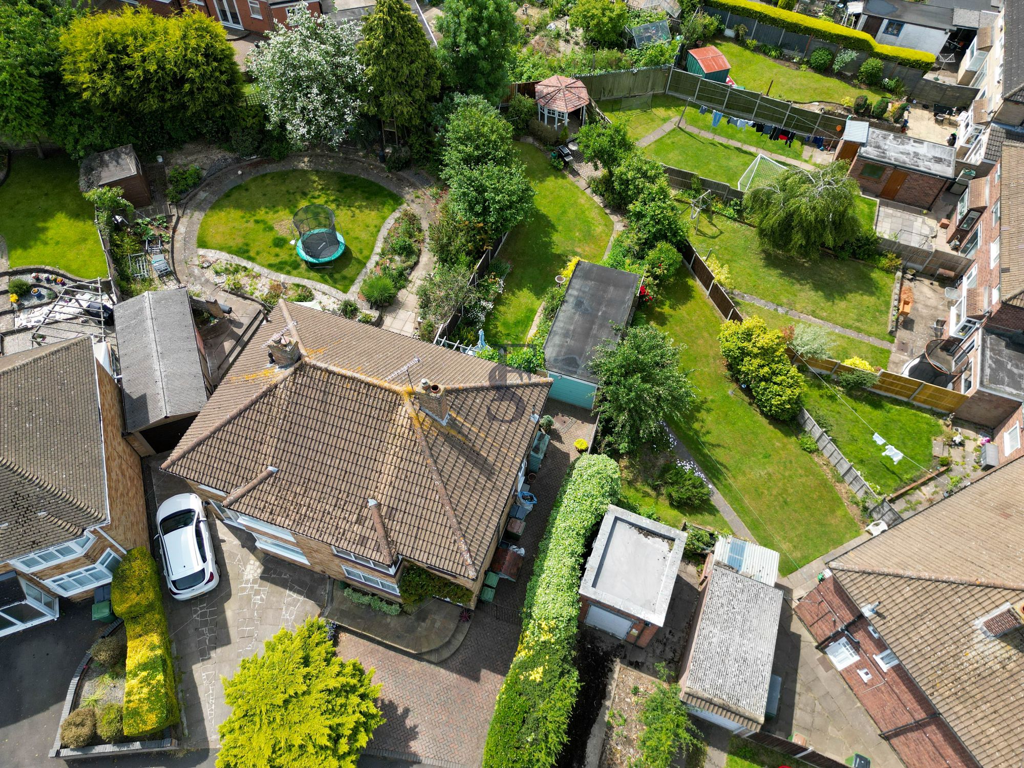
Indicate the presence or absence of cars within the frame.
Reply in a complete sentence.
Yes, the frame does contain a car.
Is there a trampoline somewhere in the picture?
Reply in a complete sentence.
Yes, a trampoline is visible in the scene.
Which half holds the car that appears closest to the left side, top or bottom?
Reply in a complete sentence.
The bottom half of the photo is where the car that appears closest to the left side is.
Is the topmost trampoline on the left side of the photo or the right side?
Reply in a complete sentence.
The topmost trampoline appears in the left half of the scene.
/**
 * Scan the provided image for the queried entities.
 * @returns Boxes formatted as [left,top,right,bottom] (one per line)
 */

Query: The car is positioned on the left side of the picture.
[150,494,225,602]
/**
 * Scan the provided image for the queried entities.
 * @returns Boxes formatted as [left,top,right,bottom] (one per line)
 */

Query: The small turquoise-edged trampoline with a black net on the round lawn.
[288,214,343,277]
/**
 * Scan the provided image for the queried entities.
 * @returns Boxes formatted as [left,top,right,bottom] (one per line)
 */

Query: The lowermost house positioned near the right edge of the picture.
[797,443,1024,768]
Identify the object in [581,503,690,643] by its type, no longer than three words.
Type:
building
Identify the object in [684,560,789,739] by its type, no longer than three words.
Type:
building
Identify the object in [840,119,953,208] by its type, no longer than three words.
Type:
shed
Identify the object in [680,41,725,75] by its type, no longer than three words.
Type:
shed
